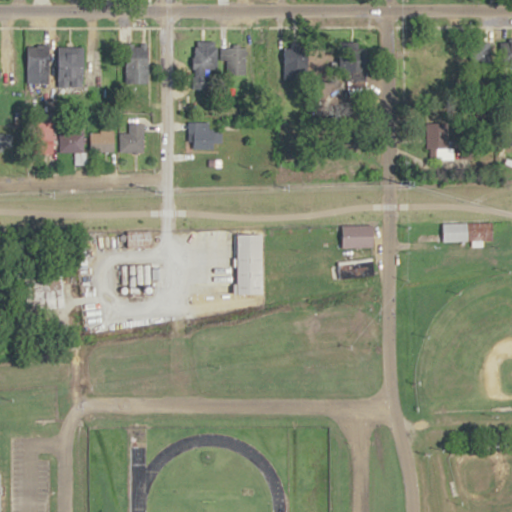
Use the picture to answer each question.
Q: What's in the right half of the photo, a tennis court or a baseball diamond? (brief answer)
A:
baseball diamond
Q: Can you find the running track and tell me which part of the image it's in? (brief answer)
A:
bottom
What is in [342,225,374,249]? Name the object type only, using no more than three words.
barn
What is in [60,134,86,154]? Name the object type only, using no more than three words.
house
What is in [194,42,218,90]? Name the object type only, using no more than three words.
house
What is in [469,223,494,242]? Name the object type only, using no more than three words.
barn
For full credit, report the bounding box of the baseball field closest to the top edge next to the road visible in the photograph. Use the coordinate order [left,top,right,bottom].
[416,272,512,413]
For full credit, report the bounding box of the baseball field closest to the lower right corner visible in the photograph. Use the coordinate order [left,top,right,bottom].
[450,452,512,506]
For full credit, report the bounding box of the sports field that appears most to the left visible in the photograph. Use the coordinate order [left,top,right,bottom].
[147,447,274,512]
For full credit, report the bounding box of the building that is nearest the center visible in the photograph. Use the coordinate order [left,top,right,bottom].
[234,234,264,296]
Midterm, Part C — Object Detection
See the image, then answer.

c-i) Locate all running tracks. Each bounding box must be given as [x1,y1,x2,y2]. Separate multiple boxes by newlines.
[130,428,286,512]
